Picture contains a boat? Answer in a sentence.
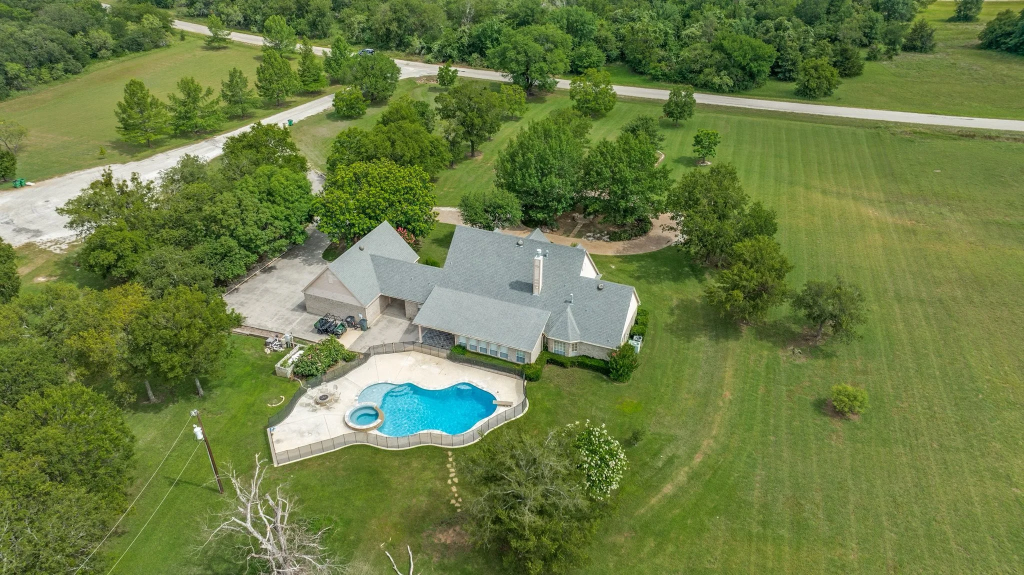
No, there's no boat here.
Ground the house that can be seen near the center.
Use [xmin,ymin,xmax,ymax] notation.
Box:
[300,221,640,366]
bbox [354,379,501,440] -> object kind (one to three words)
swimming pool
